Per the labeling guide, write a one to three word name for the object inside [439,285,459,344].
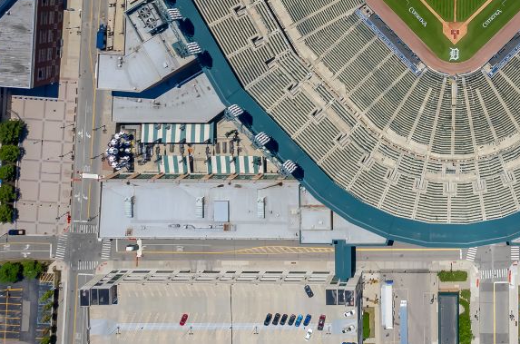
building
